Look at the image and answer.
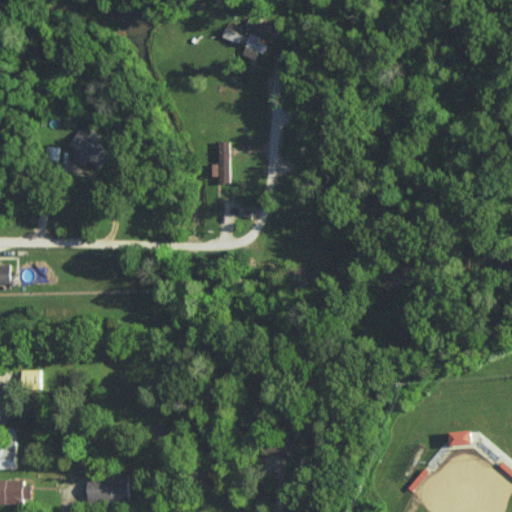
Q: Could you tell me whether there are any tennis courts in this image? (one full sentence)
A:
No, no tennis court can be seen from above.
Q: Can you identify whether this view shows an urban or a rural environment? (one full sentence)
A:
The land in this view is best described as rural.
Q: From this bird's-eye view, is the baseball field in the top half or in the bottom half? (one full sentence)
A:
The bottom half of the photo is where the baseball field is.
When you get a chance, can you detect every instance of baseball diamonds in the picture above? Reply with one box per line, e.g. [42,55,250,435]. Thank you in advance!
[372,358,512,512]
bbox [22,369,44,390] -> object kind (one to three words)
barn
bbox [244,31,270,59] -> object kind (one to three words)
house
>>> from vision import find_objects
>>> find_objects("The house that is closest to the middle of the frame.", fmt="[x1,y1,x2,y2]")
[210,142,236,183]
